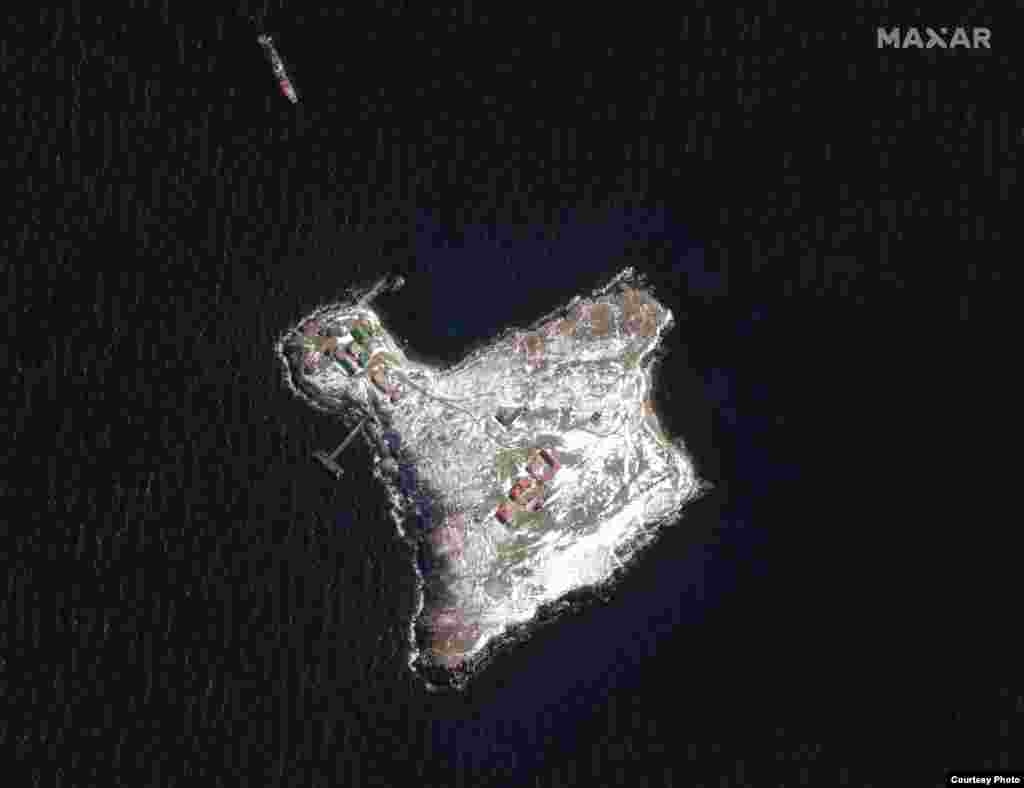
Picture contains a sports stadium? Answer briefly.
No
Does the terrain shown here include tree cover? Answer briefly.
No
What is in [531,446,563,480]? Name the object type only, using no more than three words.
building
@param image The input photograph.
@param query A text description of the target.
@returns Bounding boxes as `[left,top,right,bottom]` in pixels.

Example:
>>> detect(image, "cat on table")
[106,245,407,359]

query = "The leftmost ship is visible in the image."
[269,45,299,104]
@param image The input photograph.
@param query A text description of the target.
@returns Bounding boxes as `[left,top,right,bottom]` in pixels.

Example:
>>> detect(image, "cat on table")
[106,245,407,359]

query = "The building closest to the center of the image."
[490,404,522,430]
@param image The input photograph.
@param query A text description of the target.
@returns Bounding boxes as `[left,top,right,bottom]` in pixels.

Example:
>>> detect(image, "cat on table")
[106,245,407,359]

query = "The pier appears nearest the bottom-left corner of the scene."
[312,417,367,474]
